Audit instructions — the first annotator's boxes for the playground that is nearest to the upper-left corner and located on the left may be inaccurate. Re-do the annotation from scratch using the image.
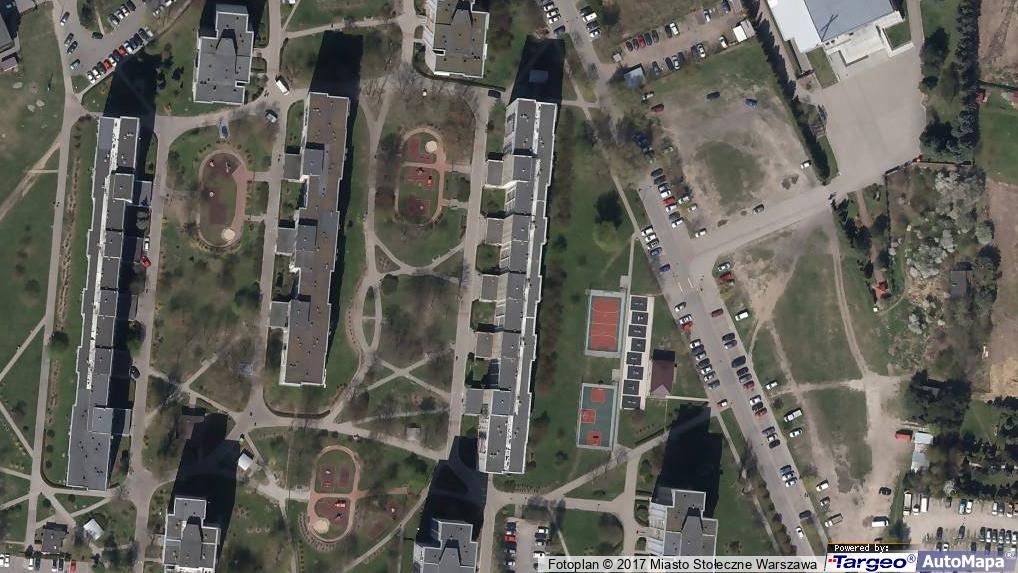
[198,148,247,249]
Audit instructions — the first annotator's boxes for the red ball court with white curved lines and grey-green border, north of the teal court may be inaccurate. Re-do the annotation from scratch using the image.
[586,290,625,358]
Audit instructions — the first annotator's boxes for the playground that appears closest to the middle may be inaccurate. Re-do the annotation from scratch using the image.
[394,126,448,226]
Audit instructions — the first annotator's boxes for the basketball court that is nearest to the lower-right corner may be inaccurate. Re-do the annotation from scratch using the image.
[577,384,618,452]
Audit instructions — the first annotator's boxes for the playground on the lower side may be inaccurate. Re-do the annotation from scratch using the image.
[306,447,362,544]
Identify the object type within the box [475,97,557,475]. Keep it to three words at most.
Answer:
building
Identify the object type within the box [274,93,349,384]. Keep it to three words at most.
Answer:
building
